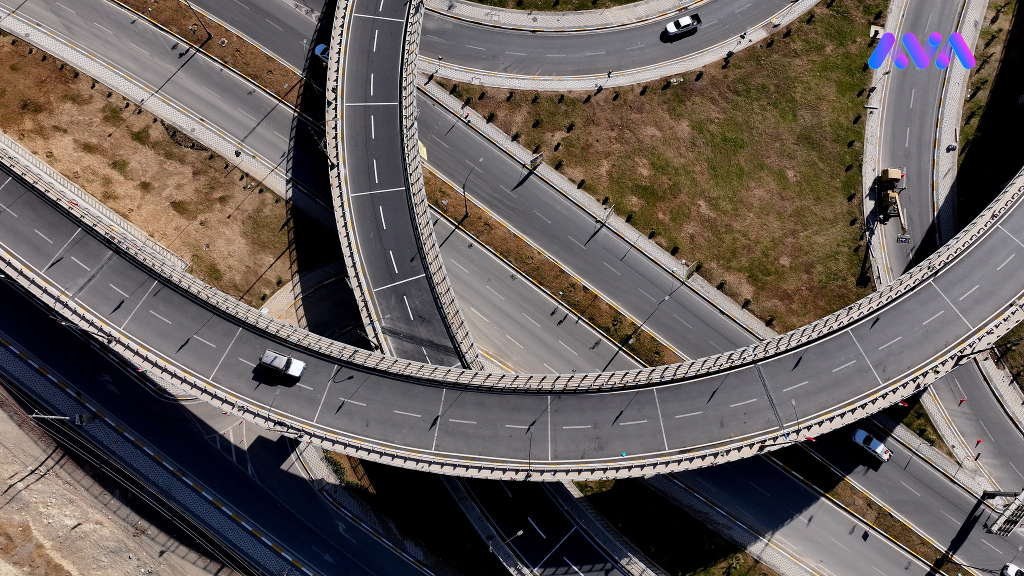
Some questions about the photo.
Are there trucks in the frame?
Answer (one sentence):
Yes, you can see a truck in this photo.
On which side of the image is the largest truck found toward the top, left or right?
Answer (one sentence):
The largest truck found toward the top appears in the right half of the scene.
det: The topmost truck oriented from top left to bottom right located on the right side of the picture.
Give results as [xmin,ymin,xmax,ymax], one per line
[847,426,896,465]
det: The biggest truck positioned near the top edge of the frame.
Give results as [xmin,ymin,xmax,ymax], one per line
[661,14,702,38]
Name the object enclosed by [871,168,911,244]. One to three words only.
truck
